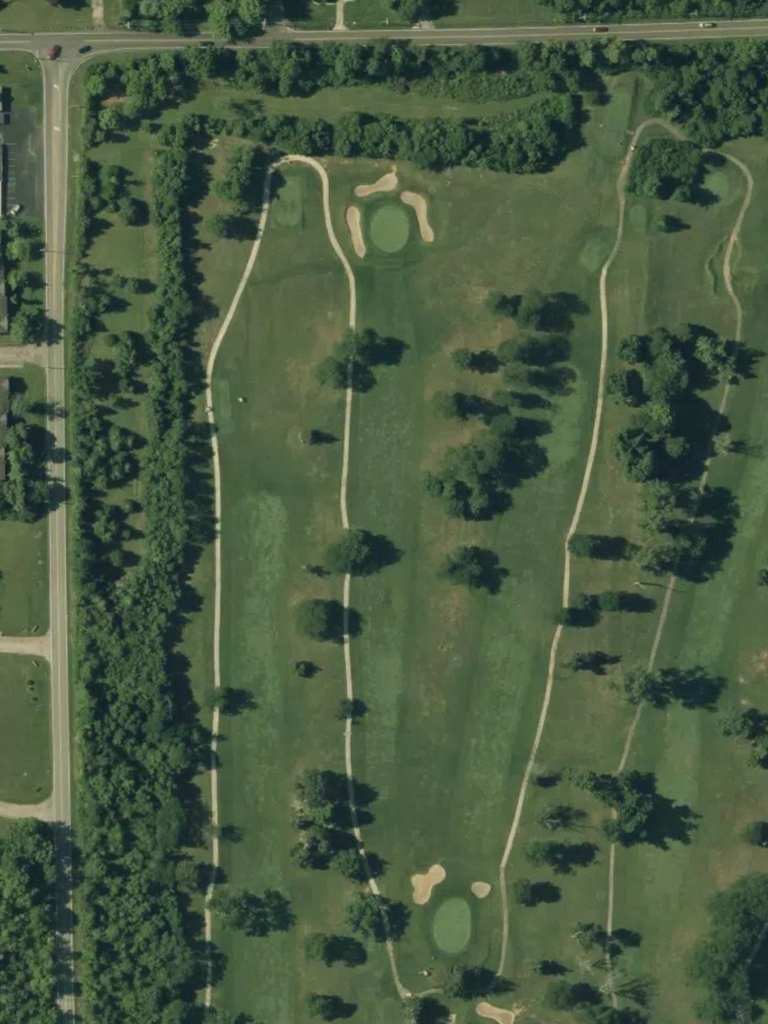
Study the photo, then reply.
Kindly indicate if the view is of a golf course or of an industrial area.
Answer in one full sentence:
The picture captures a golf course.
